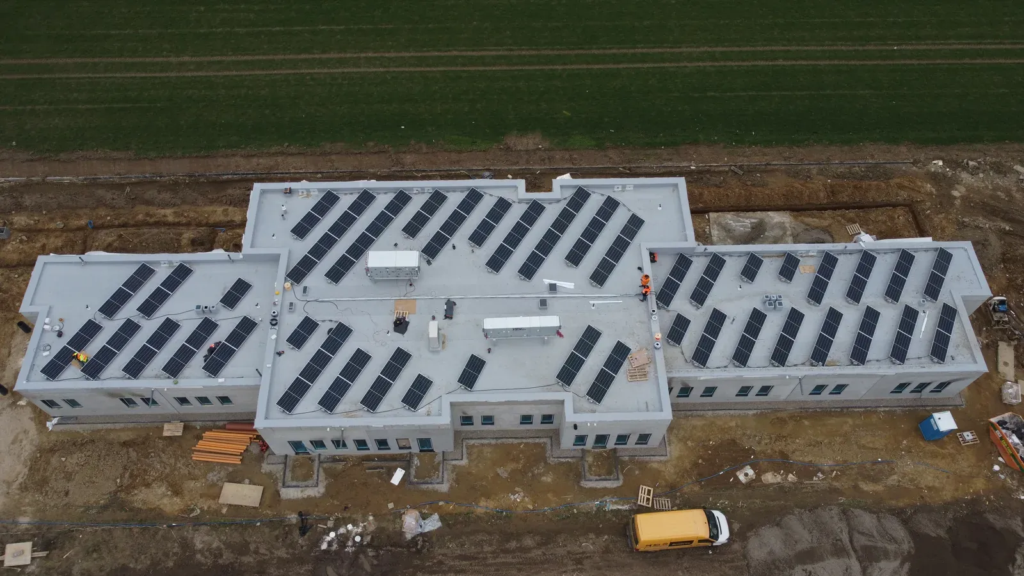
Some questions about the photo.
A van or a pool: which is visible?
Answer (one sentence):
This aerial view contains a van.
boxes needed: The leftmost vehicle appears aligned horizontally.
[624,505,728,553]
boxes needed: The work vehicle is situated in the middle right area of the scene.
[991,295,1024,331]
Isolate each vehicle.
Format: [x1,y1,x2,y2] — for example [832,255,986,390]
[624,505,728,553]
[991,295,1024,331]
